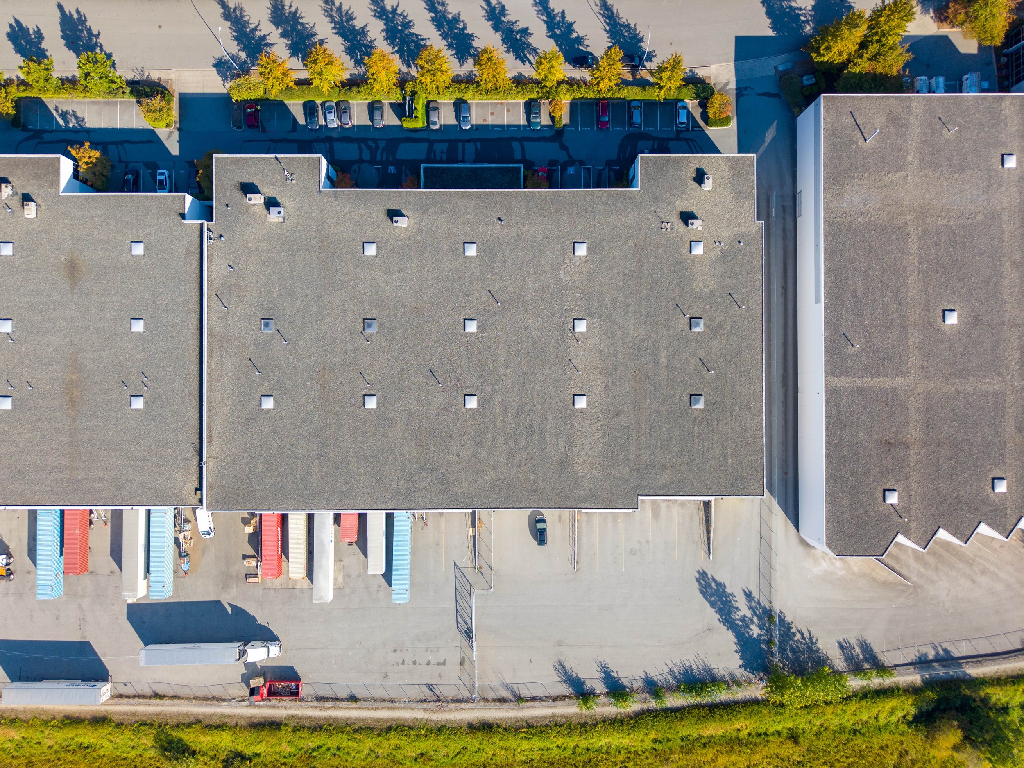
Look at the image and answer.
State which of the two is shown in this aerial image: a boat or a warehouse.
warehouse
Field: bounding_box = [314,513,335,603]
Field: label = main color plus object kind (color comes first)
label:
white trailer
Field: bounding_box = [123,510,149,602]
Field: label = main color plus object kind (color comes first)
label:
white trailer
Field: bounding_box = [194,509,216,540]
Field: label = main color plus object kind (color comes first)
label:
white vehicle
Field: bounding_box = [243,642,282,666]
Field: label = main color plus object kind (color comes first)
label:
white truck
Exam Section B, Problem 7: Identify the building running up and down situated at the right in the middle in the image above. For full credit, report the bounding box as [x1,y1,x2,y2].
[797,94,1024,558]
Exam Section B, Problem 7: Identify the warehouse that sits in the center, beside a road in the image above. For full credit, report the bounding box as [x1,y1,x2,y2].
[180,153,766,514]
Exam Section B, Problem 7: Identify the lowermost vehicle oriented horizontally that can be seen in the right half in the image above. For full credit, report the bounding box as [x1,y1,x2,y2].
[629,145,660,160]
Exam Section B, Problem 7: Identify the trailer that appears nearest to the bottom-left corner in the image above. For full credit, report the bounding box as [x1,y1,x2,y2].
[2,678,110,704]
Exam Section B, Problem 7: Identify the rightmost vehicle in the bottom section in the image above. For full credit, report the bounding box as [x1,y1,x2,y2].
[534,513,547,546]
